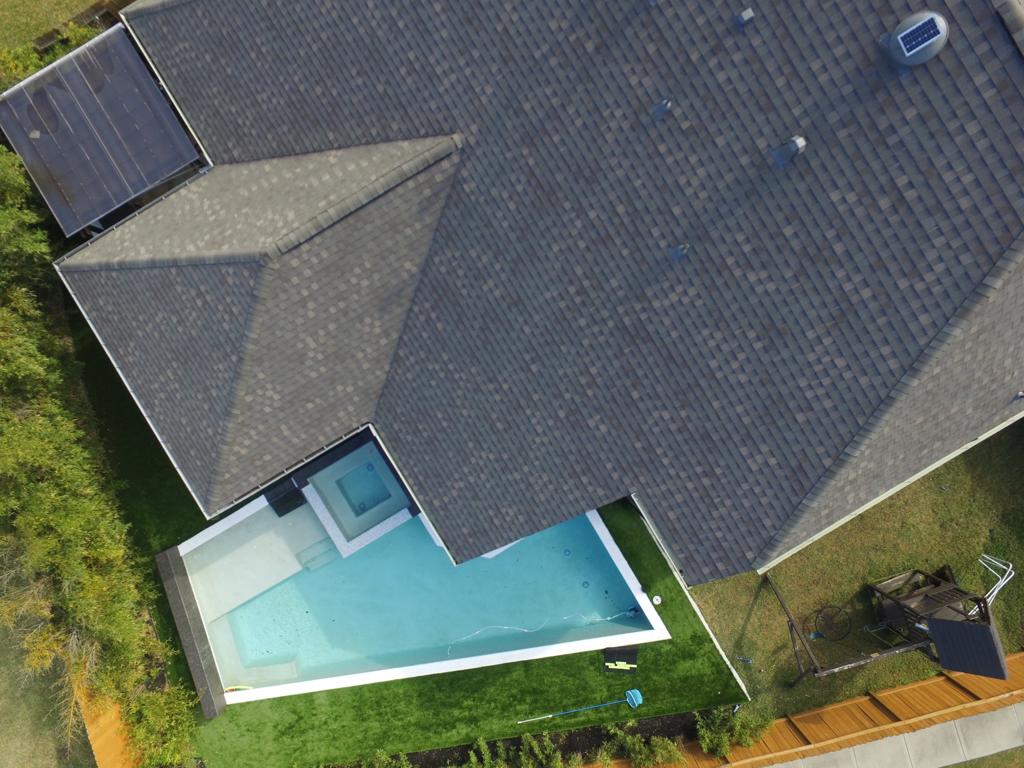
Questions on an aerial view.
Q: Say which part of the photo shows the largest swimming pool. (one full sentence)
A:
The largest swimming pool sits in the bottom section of the image.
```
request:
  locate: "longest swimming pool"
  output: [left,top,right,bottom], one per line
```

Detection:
[178,483,671,704]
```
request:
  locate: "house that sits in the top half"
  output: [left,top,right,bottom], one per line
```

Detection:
[46,0,1024,593]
